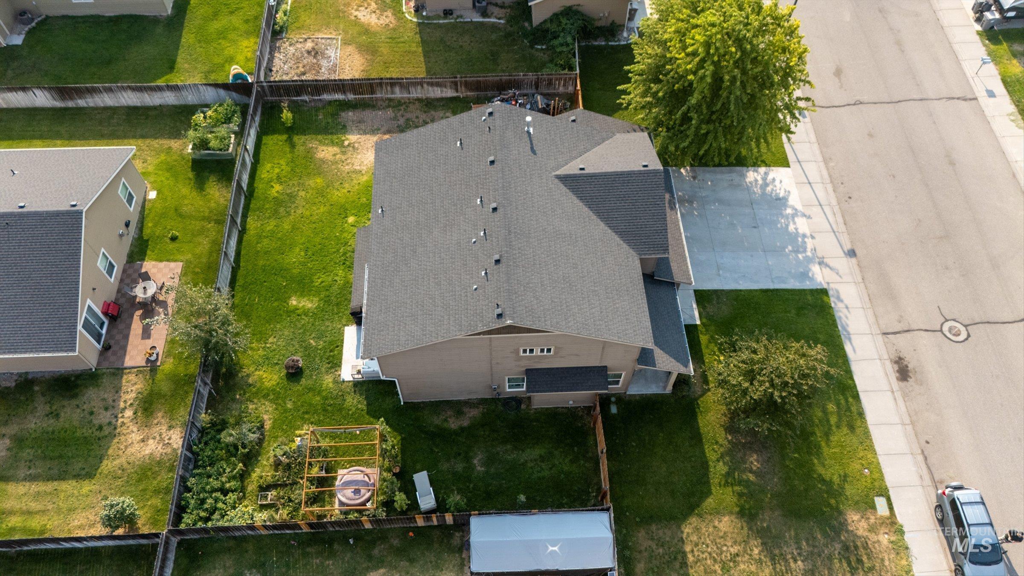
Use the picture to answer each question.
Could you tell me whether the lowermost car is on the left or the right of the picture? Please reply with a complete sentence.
The lowermost car is on the right side of the image.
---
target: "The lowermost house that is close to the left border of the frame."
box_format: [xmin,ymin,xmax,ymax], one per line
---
[0,147,146,373]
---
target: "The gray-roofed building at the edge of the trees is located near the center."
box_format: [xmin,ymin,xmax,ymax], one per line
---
[350,101,695,408]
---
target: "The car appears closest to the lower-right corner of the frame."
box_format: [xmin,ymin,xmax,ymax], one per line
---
[930,480,1009,576]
